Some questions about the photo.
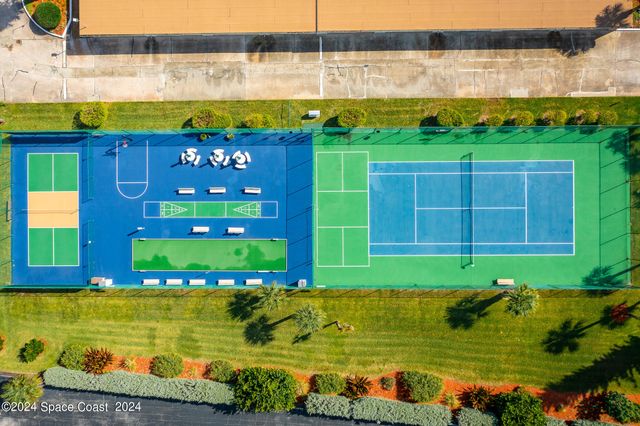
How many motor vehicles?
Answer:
none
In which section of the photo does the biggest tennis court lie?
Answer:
right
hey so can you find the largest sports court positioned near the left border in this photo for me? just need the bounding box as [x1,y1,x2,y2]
[27,153,79,266]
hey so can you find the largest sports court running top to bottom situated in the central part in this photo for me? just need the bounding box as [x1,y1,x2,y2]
[316,151,369,266]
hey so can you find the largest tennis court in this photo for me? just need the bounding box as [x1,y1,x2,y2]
[314,129,630,289]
